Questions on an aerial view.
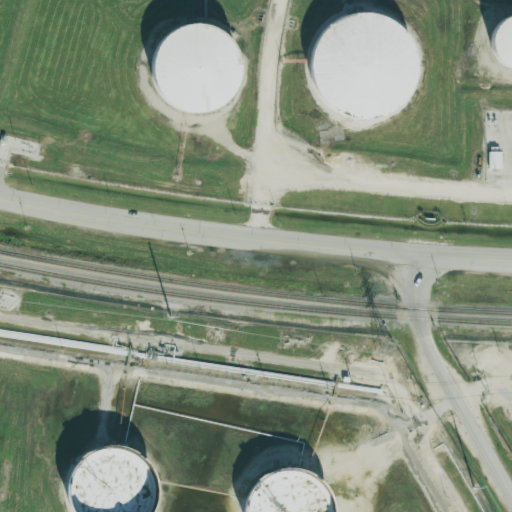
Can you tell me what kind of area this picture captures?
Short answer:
industrial area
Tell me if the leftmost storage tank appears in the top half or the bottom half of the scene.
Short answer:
bottom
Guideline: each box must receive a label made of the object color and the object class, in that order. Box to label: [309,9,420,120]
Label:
white storage tank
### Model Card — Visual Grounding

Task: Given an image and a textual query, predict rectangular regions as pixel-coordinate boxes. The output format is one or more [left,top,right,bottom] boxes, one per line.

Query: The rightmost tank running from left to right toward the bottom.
[240,465,337,512]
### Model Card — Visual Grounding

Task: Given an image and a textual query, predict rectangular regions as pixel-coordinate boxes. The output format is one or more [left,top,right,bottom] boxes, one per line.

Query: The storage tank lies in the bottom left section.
[61,444,160,512]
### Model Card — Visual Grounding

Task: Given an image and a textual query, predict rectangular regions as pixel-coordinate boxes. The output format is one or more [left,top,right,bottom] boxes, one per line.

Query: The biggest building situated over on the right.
[488,148,504,170]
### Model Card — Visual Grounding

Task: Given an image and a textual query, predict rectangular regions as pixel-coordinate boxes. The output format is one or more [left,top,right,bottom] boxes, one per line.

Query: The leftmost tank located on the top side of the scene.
[150,20,247,113]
